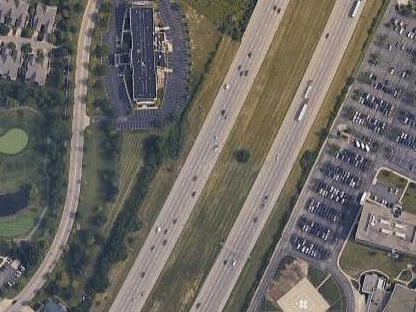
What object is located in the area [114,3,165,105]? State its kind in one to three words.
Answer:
building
